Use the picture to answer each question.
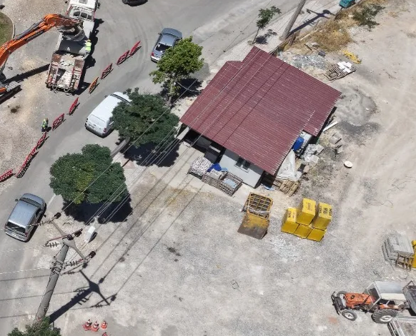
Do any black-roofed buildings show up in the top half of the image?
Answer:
No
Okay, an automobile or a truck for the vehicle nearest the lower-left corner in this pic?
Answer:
automobile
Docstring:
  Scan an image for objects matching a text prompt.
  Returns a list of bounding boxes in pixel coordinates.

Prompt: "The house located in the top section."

[168,45,341,190]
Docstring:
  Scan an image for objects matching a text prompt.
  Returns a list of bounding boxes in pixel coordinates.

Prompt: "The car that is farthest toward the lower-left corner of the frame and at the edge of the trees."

[1,193,52,247]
